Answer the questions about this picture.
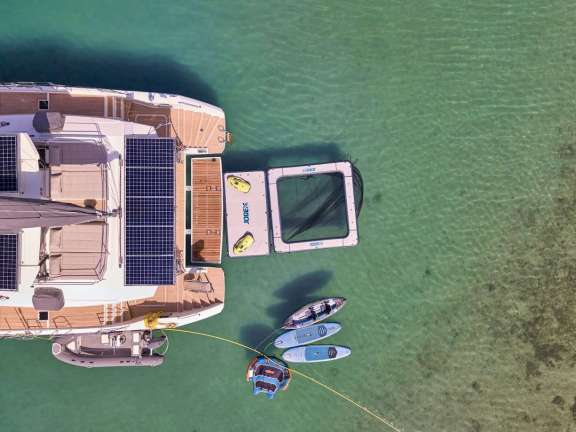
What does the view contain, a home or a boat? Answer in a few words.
boat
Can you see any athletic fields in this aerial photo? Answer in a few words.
No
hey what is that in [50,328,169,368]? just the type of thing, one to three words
boat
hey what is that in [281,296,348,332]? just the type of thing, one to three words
boat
